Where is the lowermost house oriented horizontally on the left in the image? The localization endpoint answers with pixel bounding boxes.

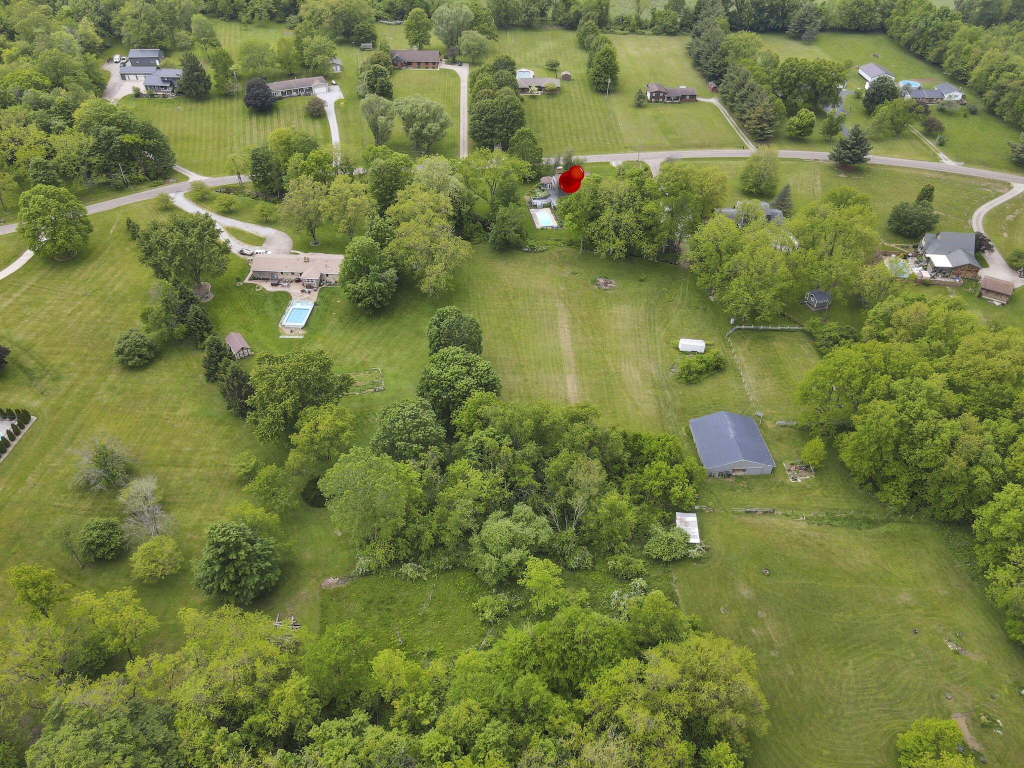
[250,252,349,289]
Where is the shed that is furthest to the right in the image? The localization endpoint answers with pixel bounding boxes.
[982,277,1017,302]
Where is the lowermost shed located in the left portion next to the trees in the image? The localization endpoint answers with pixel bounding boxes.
[228,331,252,359]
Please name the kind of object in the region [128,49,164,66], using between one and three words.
barn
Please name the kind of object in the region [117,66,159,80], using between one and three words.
house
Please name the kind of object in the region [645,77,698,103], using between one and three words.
house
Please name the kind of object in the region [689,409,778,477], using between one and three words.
barn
